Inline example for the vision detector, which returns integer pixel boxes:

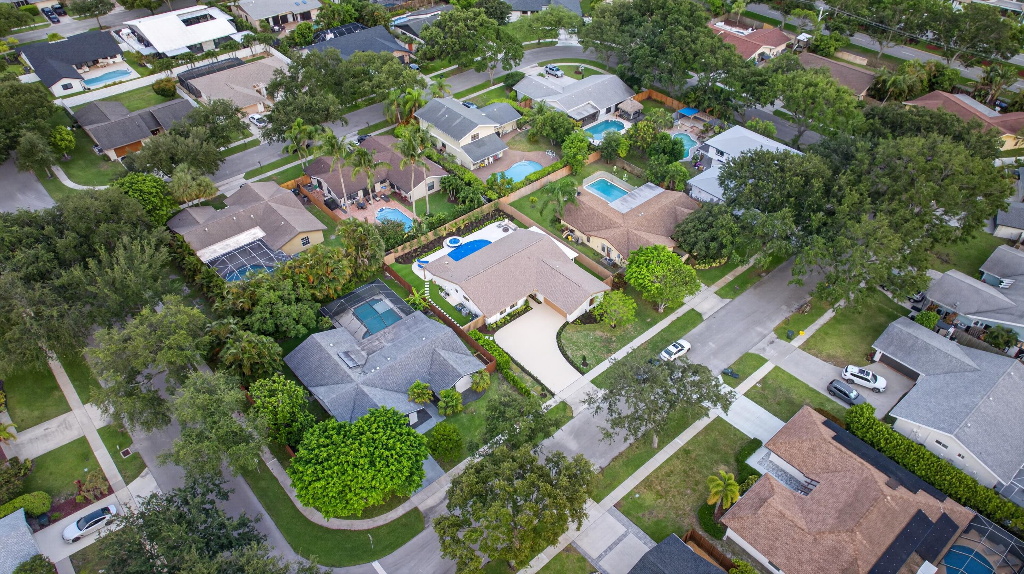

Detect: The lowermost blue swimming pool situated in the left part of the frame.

[351,298,404,340]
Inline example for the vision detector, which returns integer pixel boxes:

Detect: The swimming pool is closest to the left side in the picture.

[82,69,133,87]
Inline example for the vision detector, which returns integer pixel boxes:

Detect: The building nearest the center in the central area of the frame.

[424,227,612,327]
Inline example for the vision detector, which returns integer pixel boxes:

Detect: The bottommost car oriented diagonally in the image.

[64,504,115,544]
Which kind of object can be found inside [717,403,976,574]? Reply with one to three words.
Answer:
house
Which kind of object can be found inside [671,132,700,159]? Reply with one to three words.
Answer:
swimming pool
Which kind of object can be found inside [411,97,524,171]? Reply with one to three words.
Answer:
house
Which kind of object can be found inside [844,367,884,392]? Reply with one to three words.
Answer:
car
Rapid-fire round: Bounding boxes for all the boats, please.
[118,26,137,41]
